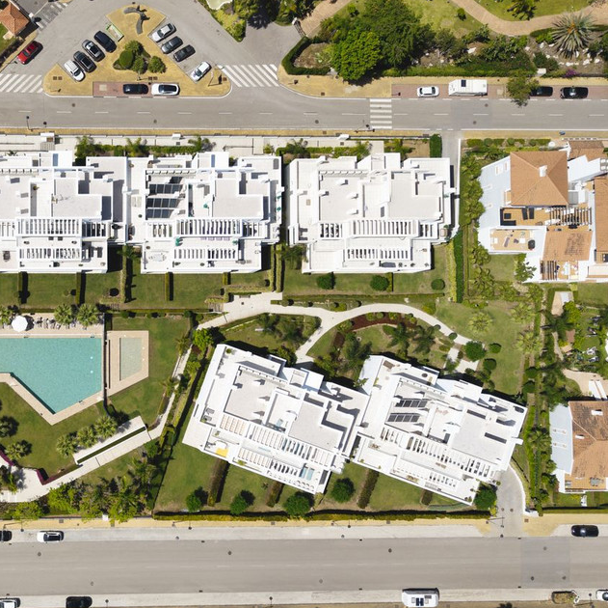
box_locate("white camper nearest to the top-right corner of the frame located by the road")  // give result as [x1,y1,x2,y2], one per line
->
[444,78,485,98]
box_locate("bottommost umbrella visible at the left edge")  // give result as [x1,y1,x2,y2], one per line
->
[11,314,28,332]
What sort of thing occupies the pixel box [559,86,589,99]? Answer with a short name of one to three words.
vehicle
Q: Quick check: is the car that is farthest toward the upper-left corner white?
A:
No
